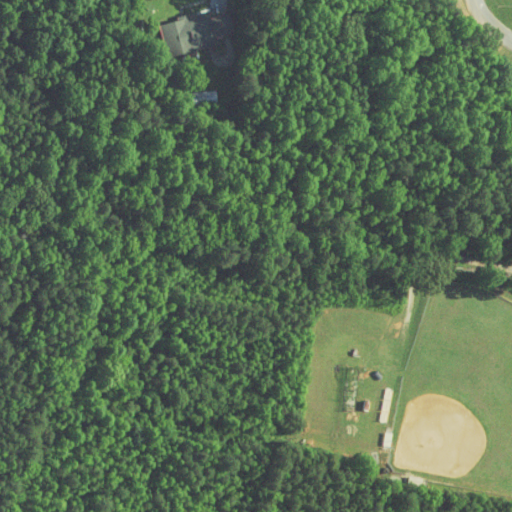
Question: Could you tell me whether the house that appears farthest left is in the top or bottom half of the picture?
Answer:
top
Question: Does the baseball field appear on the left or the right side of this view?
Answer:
right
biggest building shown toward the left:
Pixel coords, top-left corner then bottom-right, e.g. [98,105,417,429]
[160,14,200,58]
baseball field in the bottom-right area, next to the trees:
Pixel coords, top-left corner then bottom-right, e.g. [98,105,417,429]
[391,290,512,498]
